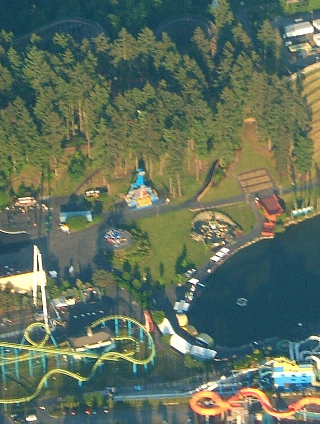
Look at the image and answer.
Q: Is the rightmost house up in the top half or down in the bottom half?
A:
bottom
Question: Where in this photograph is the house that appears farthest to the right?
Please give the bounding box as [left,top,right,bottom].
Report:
[272,360,317,391]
